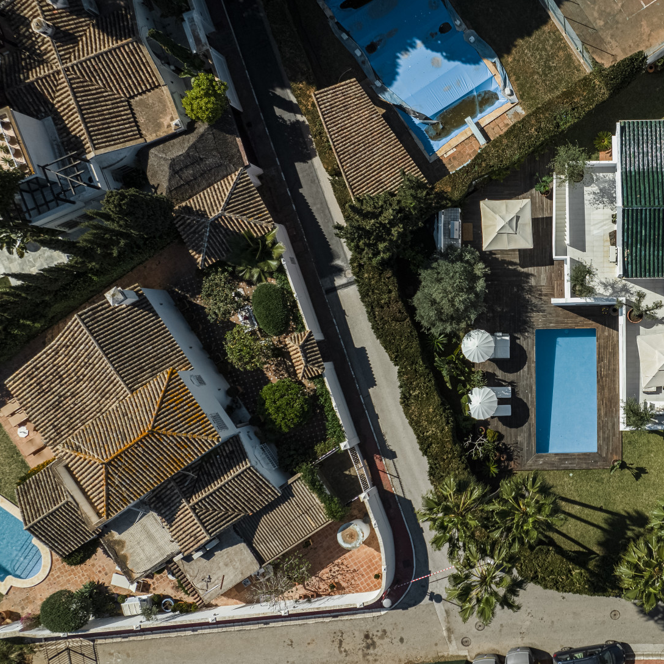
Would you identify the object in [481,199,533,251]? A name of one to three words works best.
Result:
umbrella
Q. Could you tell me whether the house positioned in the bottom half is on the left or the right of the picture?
left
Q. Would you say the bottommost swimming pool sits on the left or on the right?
left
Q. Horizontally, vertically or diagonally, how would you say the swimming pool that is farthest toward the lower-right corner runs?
vertically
